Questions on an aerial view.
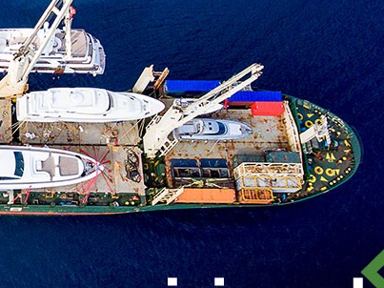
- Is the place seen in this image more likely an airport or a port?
port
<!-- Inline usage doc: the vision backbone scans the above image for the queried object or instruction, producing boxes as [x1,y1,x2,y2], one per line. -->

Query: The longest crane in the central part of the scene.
[141,65,265,169]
